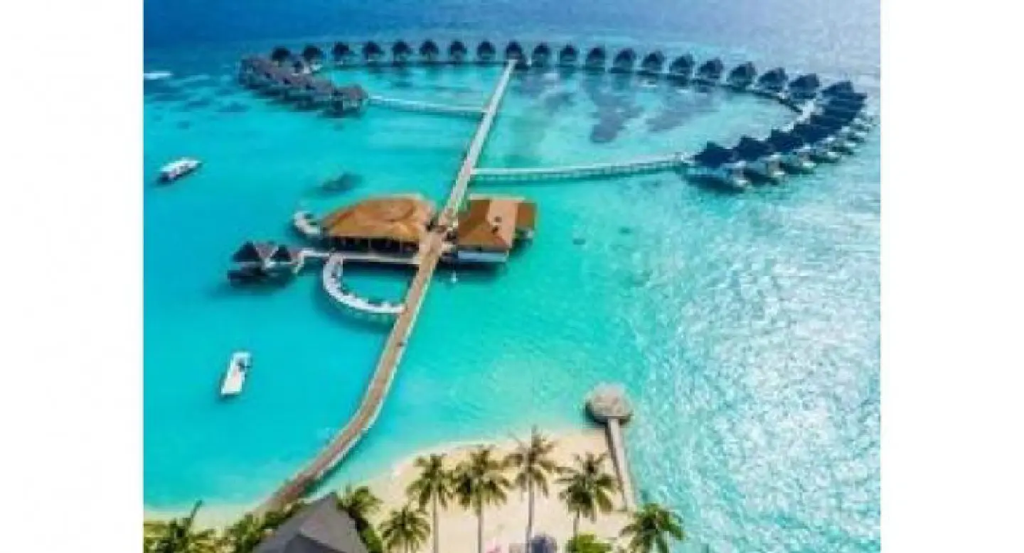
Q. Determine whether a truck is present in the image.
No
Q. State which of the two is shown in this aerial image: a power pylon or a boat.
boat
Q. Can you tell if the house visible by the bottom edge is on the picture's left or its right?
left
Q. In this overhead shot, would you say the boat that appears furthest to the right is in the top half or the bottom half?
bottom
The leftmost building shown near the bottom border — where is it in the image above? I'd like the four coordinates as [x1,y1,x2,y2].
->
[258,490,371,553]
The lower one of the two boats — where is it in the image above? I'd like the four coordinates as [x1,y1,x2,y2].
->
[221,351,255,401]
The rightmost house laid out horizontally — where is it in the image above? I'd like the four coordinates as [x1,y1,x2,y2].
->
[810,84,879,122]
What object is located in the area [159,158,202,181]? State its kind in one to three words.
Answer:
boat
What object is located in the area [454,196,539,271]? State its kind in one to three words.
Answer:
building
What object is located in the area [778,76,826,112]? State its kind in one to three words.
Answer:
house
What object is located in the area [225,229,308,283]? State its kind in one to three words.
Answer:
shed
